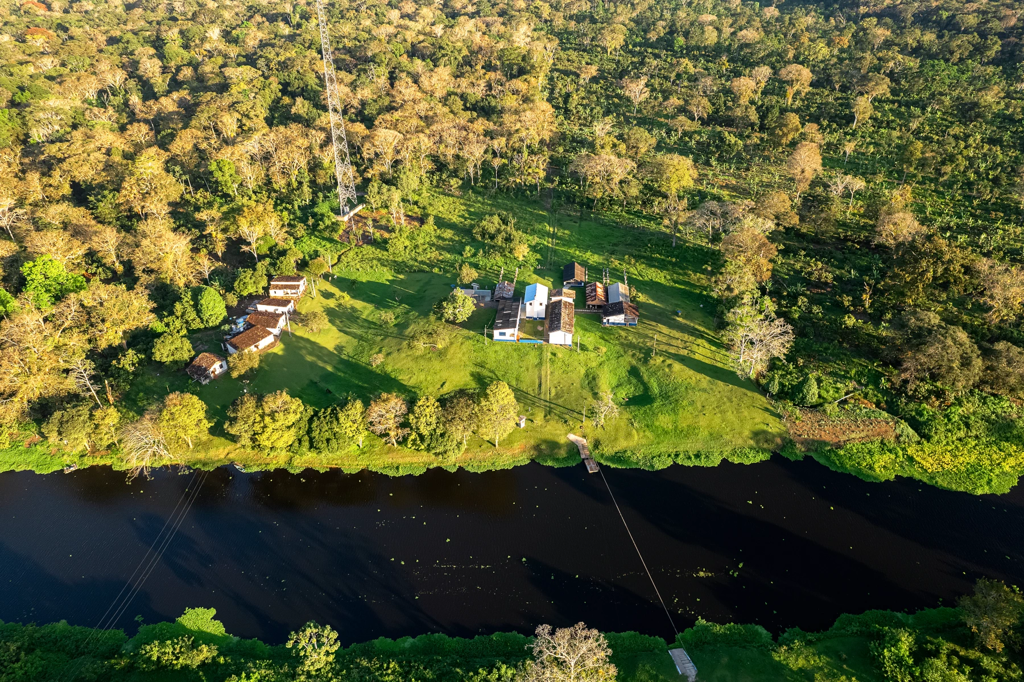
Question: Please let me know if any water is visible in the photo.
Yes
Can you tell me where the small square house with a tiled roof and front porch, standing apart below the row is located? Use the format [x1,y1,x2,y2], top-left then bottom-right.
[181,354,225,386]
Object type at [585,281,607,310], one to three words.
shed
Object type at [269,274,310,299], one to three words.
house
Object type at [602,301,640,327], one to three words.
house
